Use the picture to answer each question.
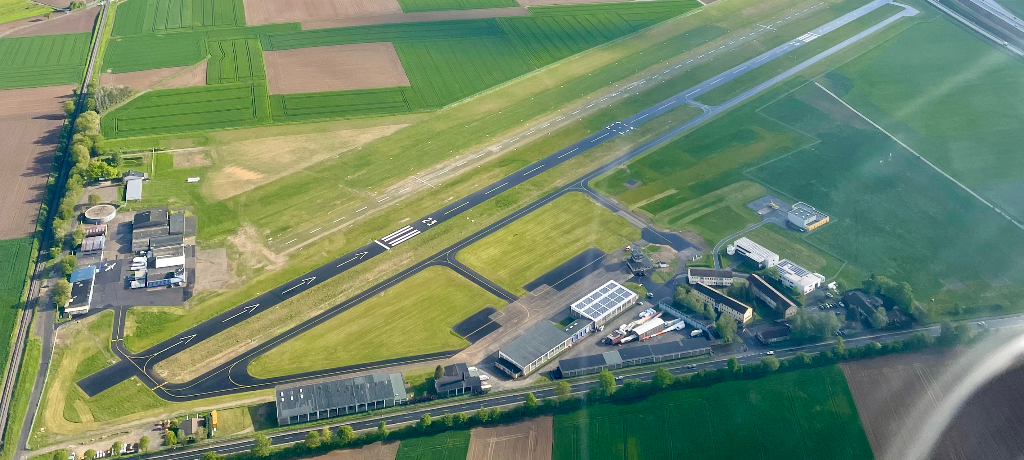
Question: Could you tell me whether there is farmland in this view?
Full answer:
Yes, the picture does contain farmland.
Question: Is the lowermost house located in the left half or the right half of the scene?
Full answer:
It is on the left.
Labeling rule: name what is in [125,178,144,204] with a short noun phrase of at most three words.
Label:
building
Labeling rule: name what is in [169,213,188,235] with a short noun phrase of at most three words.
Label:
hangar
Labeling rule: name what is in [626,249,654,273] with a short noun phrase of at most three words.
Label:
building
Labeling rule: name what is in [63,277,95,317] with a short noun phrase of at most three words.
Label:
hangar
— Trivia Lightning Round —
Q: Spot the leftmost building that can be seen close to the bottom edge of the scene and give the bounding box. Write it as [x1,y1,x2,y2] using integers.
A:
[181,416,205,441]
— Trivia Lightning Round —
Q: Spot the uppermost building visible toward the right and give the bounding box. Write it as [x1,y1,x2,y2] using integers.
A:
[787,203,830,231]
